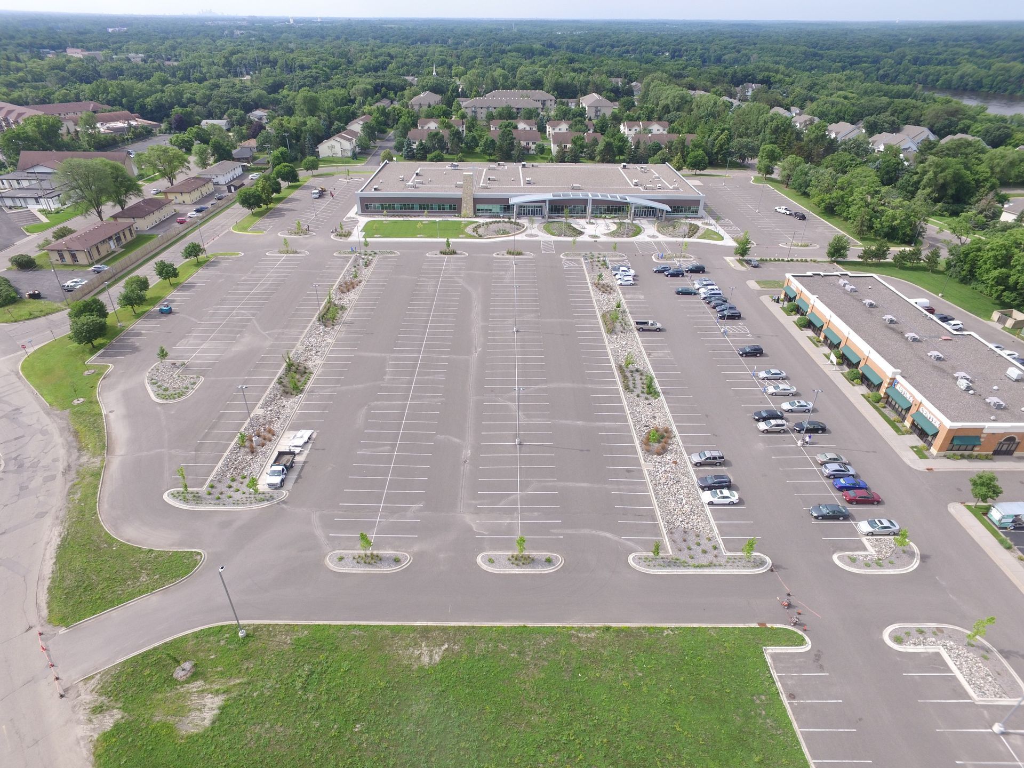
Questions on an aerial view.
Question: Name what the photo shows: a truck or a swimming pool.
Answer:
truck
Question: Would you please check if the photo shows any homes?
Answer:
Yes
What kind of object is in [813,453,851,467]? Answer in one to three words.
car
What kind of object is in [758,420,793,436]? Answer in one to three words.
car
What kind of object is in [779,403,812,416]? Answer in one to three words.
vehicle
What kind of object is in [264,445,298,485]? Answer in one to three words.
truck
